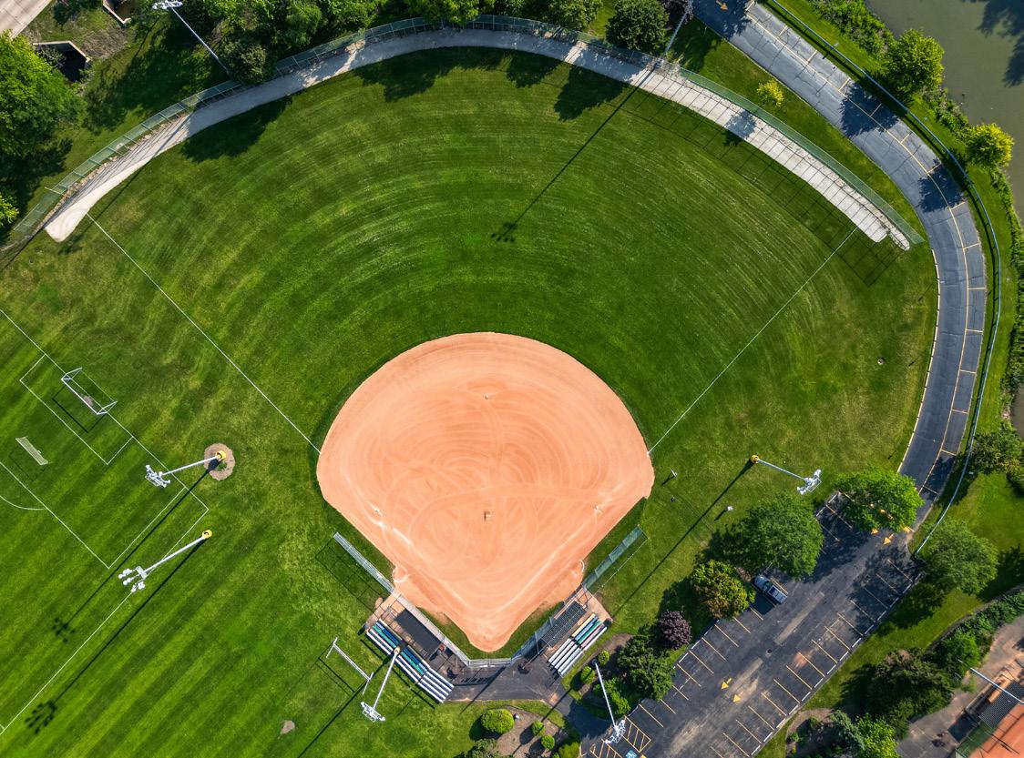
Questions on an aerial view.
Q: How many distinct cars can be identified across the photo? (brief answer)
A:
1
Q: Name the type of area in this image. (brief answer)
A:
sports ground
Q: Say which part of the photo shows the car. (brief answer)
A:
bottom right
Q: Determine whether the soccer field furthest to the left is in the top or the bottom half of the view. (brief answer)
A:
bottom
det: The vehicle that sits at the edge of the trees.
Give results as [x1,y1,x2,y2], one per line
[755,574,786,603]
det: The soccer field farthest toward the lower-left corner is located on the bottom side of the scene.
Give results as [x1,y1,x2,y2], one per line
[0,309,208,730]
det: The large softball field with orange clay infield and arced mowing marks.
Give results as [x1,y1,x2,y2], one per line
[27,18,913,653]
